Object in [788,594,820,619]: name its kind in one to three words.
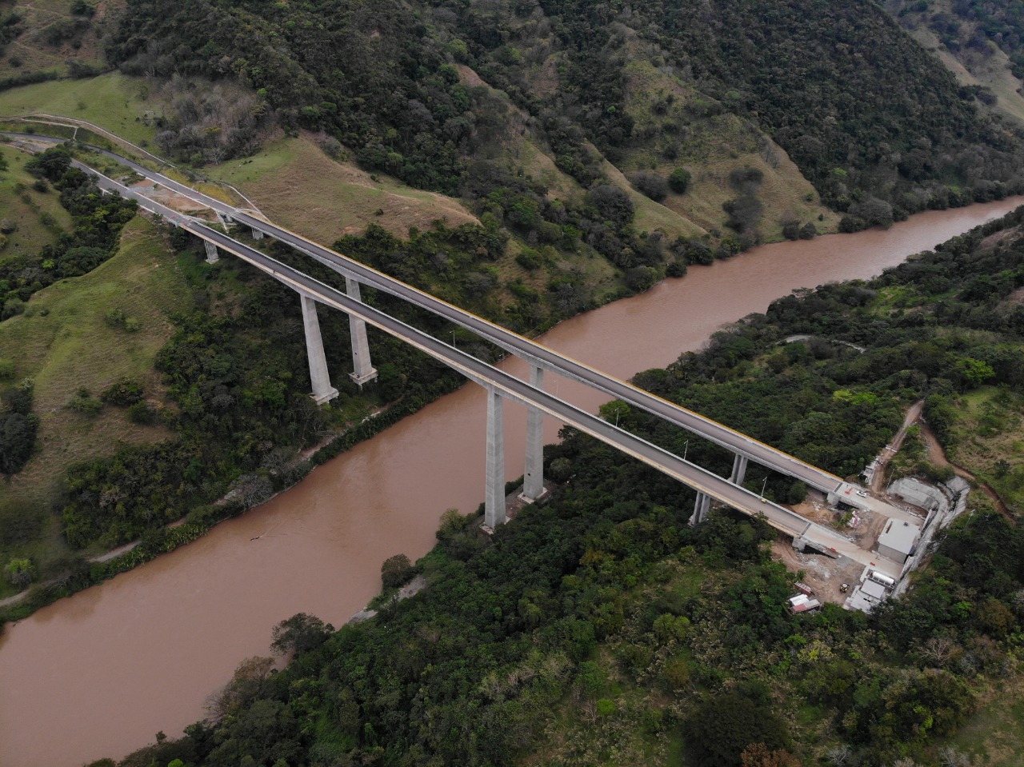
shed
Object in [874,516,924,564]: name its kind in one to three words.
building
